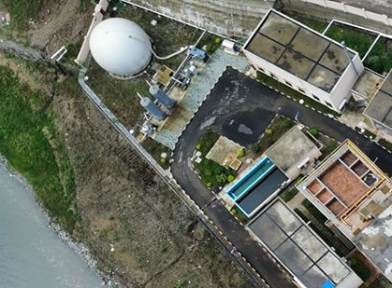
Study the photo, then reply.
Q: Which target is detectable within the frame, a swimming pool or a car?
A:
swimming pool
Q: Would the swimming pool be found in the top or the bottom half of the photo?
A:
bottom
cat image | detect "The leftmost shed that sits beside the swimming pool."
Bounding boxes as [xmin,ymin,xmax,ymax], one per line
[206,135,243,169]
